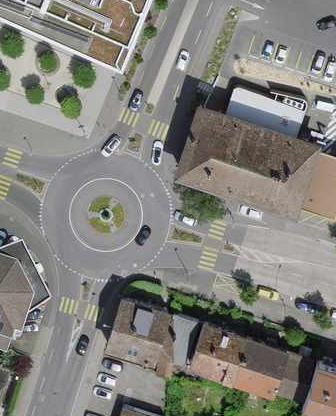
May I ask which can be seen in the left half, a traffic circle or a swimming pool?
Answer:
traffic circle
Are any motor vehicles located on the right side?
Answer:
Yes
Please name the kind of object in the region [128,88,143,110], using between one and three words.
car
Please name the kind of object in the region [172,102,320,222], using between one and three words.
house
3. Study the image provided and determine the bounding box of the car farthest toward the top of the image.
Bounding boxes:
[316,16,336,30]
